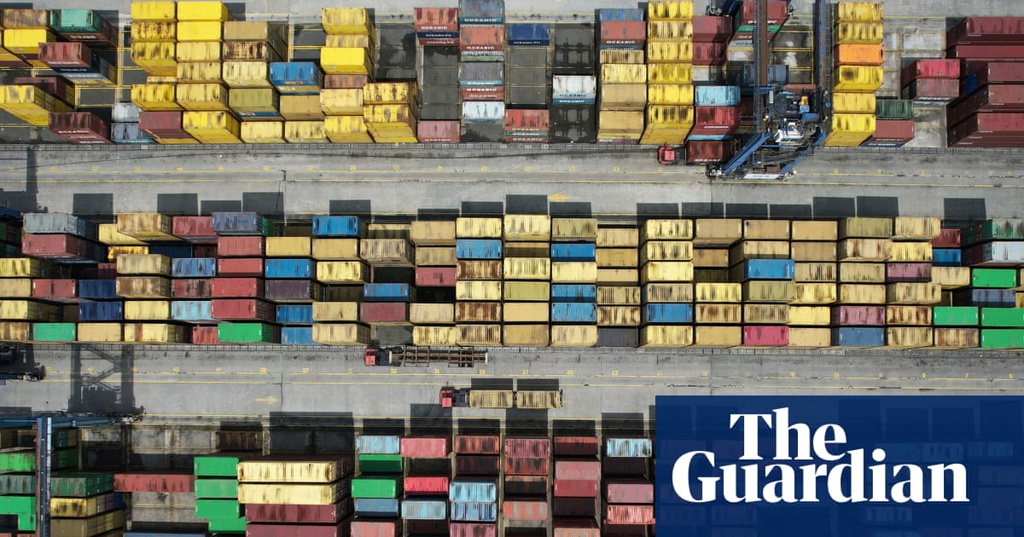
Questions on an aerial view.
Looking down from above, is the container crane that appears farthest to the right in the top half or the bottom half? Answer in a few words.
top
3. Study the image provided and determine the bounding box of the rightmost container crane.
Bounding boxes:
[707,0,843,182]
